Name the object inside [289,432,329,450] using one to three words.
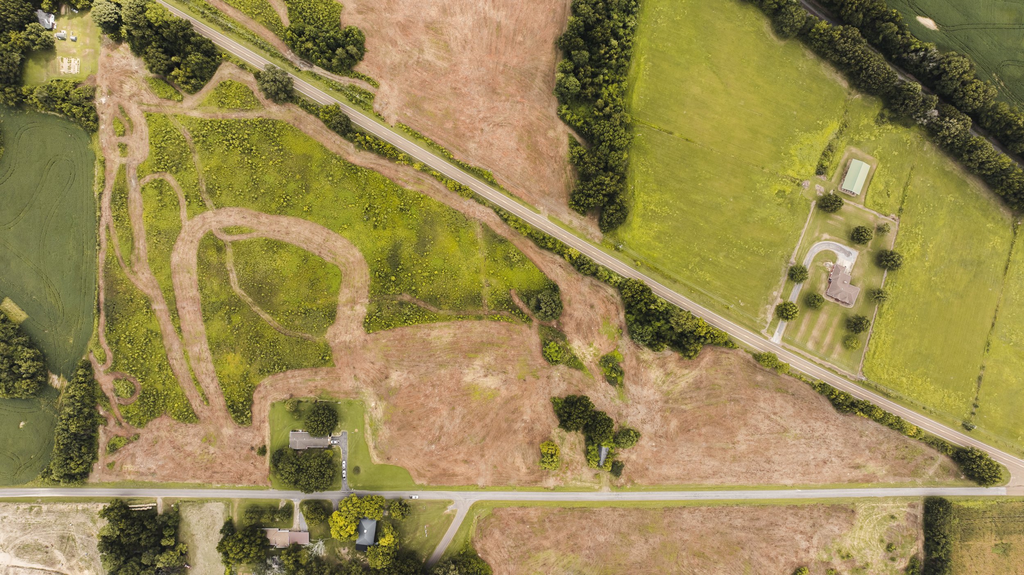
house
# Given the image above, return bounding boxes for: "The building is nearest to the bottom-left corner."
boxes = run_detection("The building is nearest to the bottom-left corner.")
[260,528,290,549]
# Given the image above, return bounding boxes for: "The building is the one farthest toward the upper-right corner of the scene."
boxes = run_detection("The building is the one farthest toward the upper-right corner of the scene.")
[841,159,870,195]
